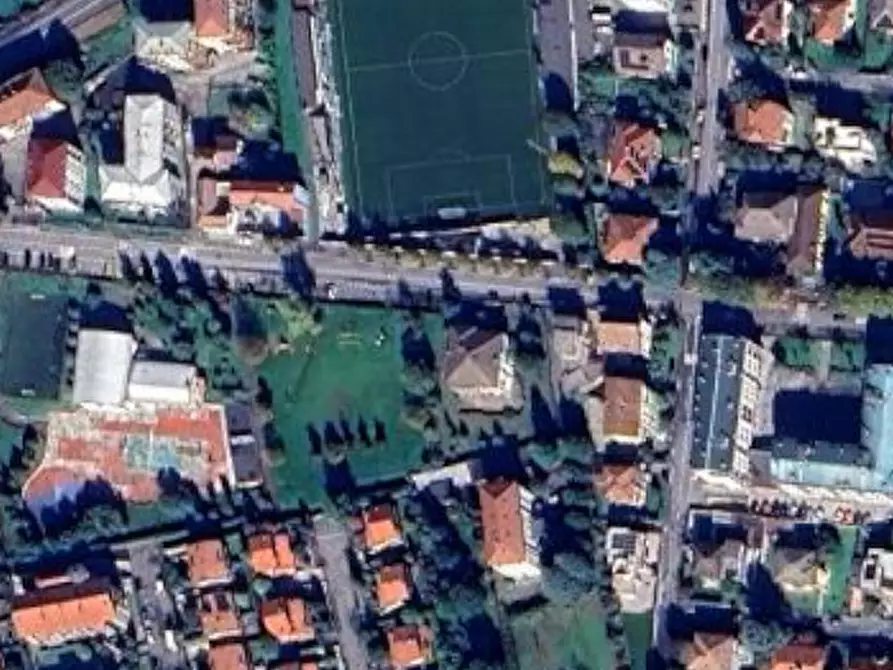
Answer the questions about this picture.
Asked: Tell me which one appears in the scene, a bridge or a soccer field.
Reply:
soccer field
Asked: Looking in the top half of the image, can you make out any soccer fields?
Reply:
Yes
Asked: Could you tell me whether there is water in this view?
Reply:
No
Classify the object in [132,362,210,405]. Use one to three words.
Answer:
building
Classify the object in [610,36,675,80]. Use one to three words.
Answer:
house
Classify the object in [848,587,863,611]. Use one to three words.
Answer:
shed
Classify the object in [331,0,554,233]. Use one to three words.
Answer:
soccer field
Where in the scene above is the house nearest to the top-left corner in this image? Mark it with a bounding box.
[0,68,75,146]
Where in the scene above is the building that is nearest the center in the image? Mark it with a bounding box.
[445,332,521,413]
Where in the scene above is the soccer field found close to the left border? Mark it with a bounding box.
[0,298,67,398]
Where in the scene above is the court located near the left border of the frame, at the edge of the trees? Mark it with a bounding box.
[22,403,236,530]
